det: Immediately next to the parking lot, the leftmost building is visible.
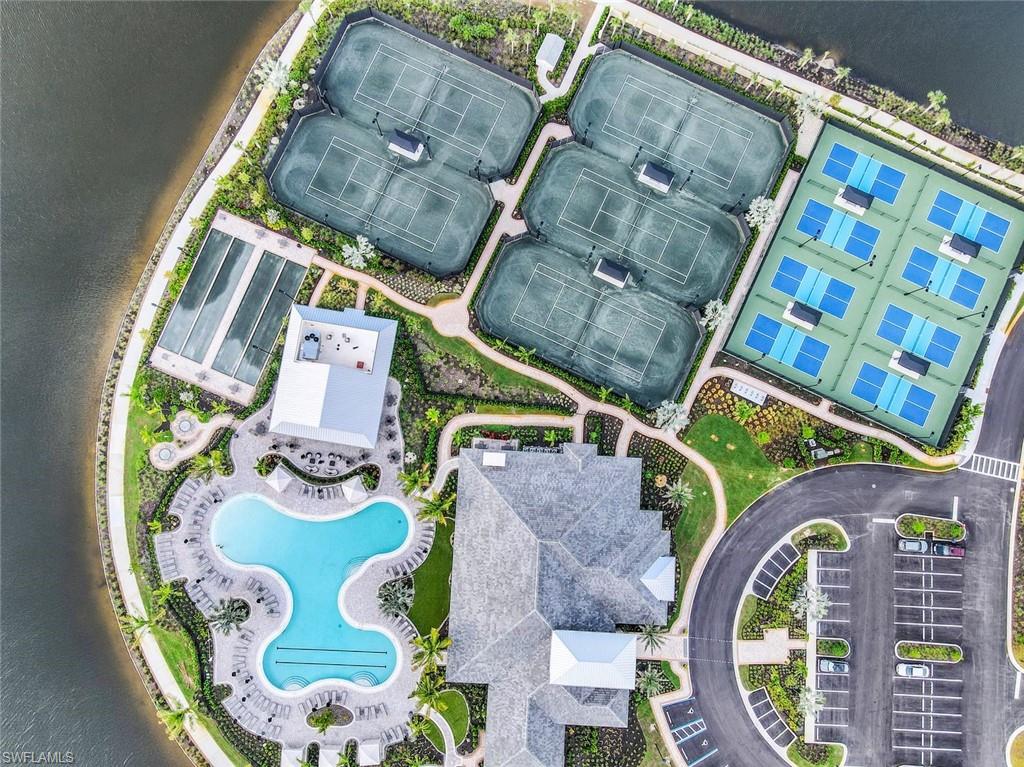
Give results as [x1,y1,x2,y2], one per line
[445,443,677,767]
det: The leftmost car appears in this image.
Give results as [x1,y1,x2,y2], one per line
[821,660,850,675]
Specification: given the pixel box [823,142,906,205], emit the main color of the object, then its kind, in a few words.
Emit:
blue sports court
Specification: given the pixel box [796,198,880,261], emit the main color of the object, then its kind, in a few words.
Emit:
blue sports court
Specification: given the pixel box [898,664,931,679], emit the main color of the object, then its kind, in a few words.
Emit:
white car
